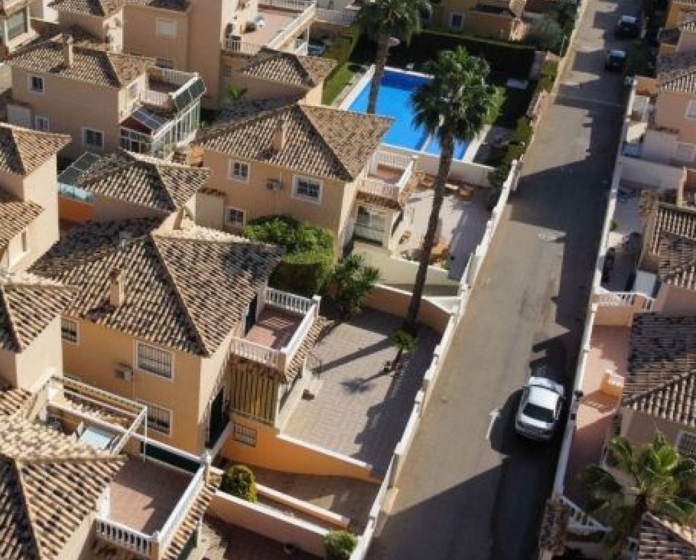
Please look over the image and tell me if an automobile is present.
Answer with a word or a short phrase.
Yes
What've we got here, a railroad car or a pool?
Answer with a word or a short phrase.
pool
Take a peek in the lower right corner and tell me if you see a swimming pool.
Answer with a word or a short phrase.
No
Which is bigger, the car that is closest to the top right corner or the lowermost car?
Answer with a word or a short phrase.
the lowermost car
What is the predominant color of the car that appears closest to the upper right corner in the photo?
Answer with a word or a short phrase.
black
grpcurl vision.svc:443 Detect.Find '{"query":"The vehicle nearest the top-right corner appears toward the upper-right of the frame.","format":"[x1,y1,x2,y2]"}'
[619,14,642,39]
